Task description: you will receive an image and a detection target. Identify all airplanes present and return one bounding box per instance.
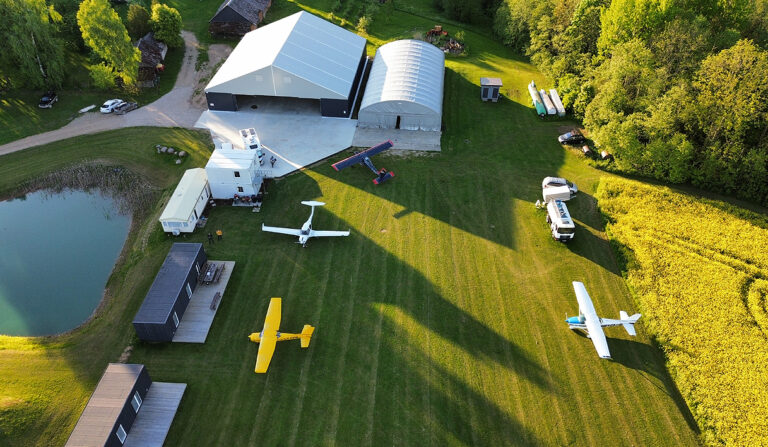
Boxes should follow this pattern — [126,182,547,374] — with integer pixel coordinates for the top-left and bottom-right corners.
[248,298,316,372]
[330,141,397,182]
[262,200,351,245]
[565,283,643,357]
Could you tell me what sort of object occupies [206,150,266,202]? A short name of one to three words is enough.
house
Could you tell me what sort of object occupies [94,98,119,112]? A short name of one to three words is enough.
car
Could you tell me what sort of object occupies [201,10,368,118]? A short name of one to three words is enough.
hangar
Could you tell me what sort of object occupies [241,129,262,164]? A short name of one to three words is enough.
camper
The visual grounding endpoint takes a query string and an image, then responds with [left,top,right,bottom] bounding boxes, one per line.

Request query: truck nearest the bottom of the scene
[544,198,578,246]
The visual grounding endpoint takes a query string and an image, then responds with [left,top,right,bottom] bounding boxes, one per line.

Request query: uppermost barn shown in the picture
[206,0,272,38]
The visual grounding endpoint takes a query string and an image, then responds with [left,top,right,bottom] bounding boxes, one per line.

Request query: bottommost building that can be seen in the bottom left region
[66,363,184,447]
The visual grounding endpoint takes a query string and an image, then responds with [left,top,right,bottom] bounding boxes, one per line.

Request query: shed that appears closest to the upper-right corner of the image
[478,79,502,100]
